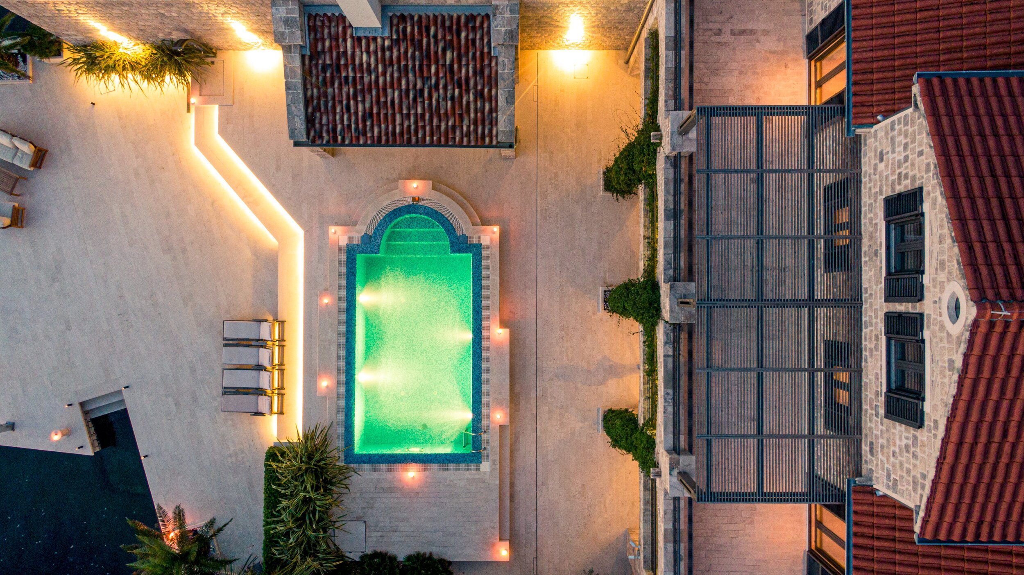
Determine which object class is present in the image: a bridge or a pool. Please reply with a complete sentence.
The image shows a pool.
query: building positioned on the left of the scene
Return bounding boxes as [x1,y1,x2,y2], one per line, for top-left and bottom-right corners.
[270,0,519,171]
